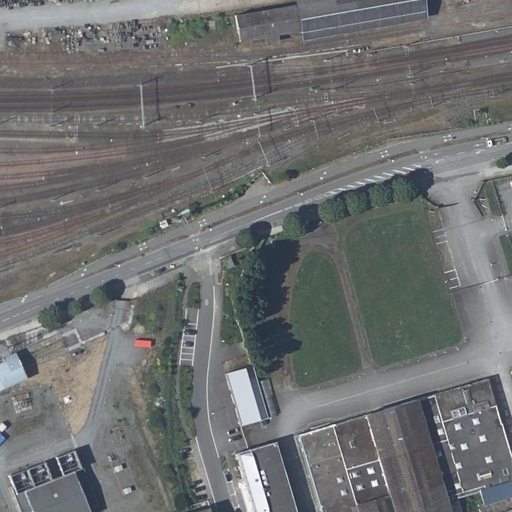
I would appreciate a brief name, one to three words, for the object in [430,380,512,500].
building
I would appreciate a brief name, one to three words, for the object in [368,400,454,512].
building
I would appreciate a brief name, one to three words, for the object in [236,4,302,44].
shed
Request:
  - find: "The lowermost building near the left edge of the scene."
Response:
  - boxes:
[8,450,90,512]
